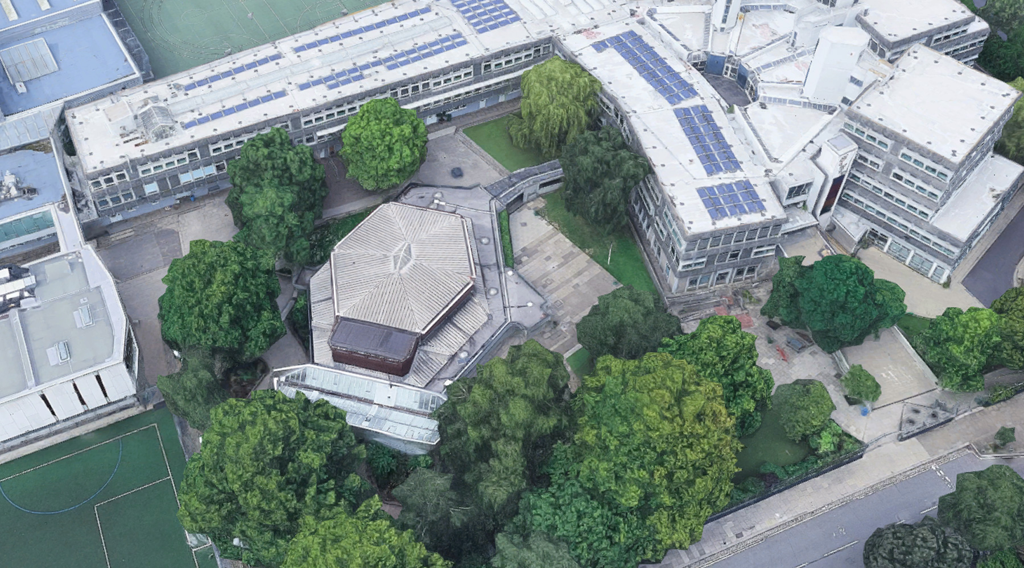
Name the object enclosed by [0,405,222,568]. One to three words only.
sports field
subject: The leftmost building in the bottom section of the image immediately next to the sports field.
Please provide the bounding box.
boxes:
[0,243,141,446]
